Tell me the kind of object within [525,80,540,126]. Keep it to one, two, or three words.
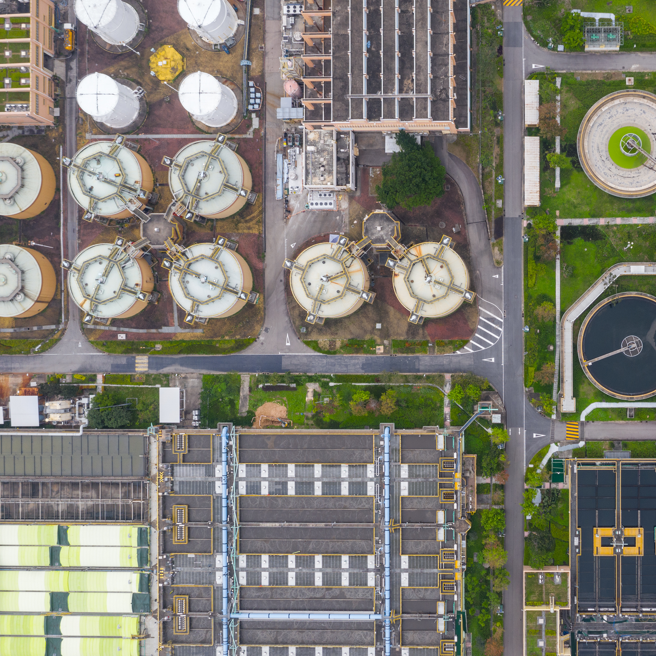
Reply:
shed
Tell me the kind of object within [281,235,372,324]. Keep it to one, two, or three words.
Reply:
storage tank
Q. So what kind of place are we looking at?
industrial area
